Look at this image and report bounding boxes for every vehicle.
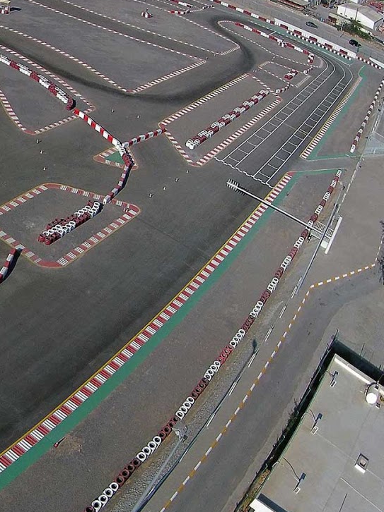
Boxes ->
[349,39,363,47]
[305,21,319,30]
